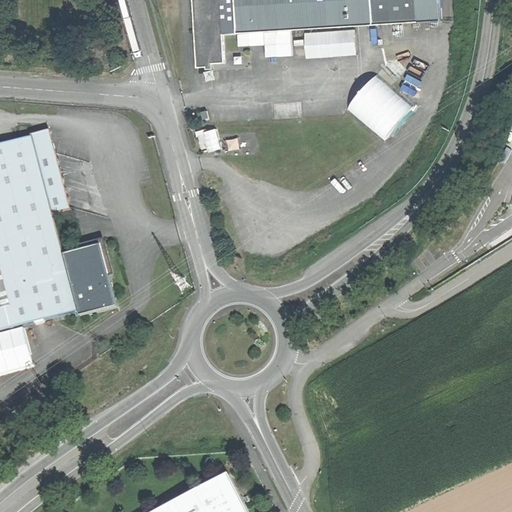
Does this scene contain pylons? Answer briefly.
Yes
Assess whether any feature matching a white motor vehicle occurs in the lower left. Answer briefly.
No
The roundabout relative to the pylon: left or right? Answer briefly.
on the right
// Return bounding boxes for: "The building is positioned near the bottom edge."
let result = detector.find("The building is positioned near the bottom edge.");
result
[150,472,250,512]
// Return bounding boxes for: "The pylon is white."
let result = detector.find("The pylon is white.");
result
[166,268,194,296]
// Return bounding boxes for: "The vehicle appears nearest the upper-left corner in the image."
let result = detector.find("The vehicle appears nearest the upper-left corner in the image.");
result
[118,0,142,60]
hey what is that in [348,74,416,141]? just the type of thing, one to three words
hangar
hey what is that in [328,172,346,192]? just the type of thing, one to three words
vehicle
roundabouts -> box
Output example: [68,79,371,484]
[182,284,296,398]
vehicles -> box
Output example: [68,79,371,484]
[118,0,142,60]
[358,160,366,170]
[328,172,346,192]
[342,177,352,190]
[501,145,512,163]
